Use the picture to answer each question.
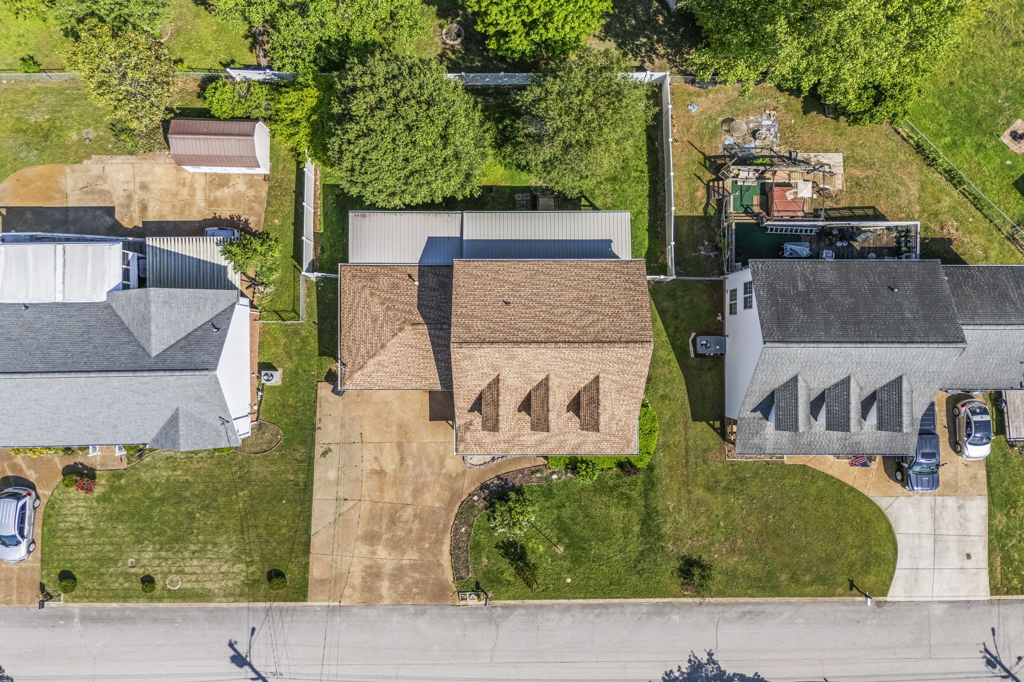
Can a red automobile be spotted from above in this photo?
No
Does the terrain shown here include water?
No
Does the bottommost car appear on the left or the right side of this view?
left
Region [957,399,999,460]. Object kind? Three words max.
car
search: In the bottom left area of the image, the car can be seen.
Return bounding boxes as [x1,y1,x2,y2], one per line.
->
[0,489,41,562]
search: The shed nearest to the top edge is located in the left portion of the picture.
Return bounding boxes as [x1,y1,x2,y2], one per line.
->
[170,119,269,178]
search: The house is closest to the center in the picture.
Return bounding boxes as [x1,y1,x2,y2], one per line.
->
[338,258,654,457]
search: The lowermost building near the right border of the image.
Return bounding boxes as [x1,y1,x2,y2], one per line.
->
[722,258,1024,456]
